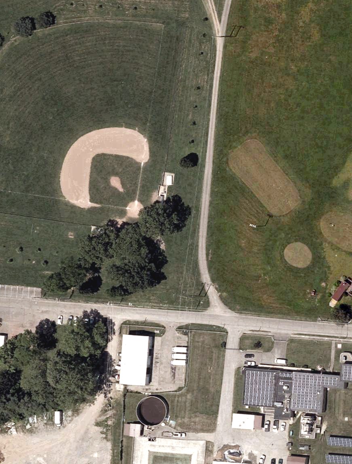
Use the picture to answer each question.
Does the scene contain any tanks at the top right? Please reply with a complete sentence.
No, looking at the top right, there is no tank.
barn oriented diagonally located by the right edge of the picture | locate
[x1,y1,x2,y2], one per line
[329,277,352,307]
